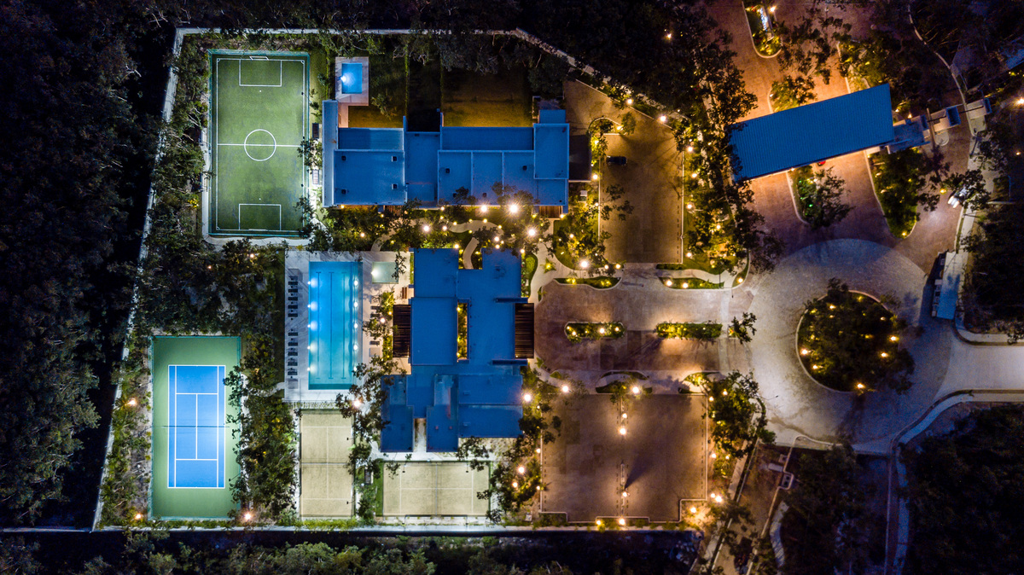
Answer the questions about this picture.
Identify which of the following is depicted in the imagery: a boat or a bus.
bus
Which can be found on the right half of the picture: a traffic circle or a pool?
traffic circle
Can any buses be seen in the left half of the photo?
No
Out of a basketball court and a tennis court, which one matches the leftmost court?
tennis court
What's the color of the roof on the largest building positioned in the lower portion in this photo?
blue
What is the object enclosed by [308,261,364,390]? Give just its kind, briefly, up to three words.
swimming pool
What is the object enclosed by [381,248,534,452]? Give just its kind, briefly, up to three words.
building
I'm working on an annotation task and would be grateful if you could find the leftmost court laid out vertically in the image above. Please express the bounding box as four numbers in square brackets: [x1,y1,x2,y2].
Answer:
[153,337,236,517]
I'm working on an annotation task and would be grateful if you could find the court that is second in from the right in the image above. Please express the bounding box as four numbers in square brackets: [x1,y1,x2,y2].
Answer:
[301,413,353,517]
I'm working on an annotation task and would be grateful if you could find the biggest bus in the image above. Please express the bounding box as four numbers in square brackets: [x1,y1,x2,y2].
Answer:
[932,251,964,320]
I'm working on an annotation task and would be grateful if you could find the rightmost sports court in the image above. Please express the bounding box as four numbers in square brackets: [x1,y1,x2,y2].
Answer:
[384,463,489,515]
